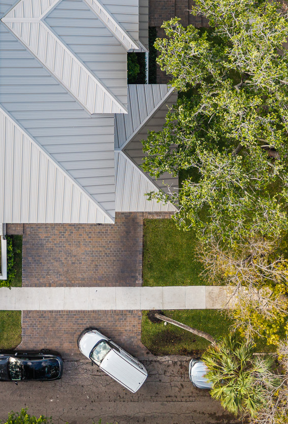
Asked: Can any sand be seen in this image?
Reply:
No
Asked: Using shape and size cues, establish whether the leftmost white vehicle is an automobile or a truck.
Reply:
automobile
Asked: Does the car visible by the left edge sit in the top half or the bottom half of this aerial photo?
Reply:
bottom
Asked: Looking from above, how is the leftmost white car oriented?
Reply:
on a diagonal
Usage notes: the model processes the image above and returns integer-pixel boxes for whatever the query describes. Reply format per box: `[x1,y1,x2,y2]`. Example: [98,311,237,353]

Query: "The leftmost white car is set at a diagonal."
[73,324,149,392]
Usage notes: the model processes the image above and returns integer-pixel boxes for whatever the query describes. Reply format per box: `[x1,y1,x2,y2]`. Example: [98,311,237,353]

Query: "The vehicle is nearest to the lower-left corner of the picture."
[0,347,63,387]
